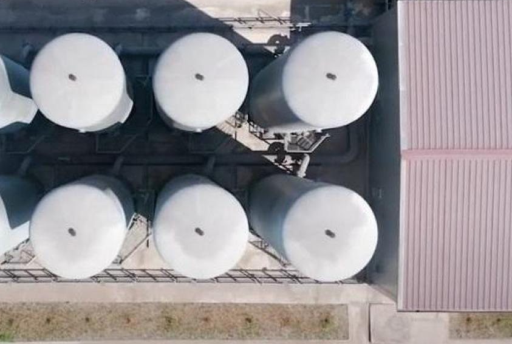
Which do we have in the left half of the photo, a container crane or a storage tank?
storage tank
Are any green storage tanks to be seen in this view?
No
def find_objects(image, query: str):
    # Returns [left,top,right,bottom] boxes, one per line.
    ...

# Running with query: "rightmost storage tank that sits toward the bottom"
[244,151,378,280]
